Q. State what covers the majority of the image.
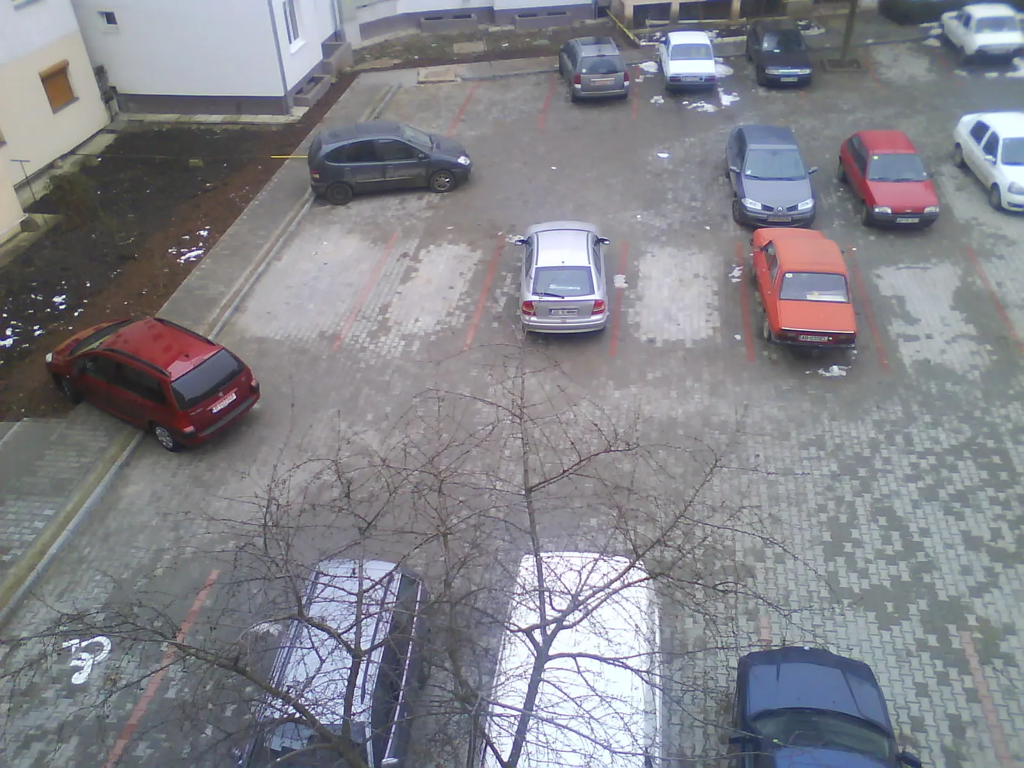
paved ground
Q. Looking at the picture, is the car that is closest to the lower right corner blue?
Yes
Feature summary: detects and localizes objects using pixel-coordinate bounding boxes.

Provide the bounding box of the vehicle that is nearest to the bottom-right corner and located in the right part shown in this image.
[727,650,922,768]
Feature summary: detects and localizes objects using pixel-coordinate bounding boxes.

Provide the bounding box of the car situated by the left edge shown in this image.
[49,318,263,455]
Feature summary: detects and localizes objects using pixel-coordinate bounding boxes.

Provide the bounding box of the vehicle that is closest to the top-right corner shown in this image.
[936,5,1024,60]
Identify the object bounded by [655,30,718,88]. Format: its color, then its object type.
white car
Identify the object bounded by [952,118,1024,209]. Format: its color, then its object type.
white car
